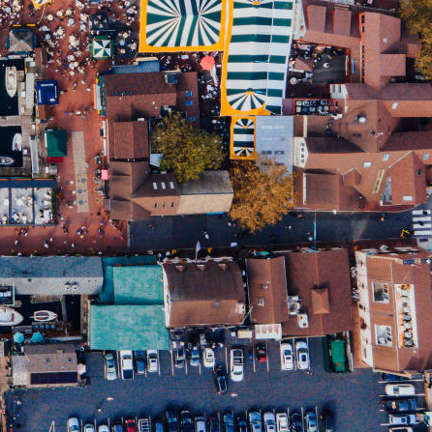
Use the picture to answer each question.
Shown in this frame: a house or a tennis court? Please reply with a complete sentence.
The one in the frame is a house.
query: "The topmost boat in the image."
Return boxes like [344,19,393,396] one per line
[5,66,17,98]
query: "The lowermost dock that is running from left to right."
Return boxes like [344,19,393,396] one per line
[0,323,83,348]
